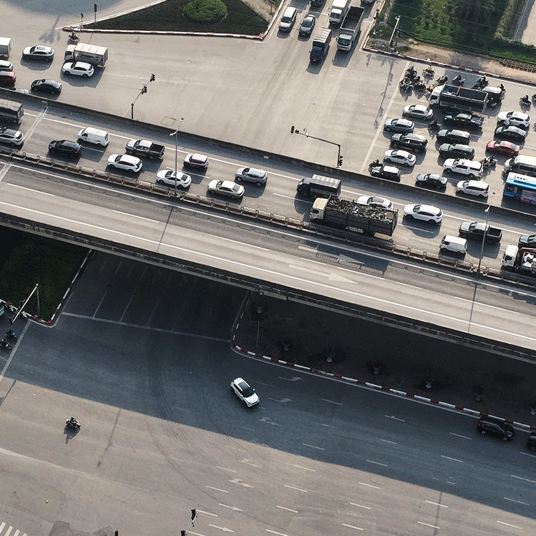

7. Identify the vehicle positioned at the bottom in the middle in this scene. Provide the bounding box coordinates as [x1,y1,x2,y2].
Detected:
[231,378,258,407]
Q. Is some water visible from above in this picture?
No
